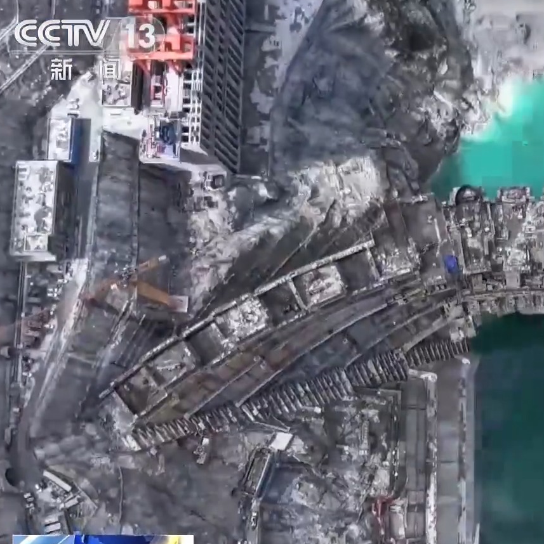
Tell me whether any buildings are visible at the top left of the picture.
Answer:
Yes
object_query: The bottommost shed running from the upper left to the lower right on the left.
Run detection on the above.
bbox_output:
[43,468,76,492]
